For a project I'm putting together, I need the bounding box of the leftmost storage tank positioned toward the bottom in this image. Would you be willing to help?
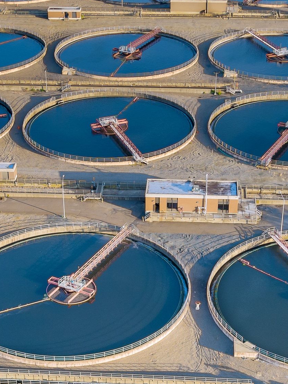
[0,221,190,367]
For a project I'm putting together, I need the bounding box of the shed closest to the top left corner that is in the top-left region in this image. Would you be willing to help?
[48,5,82,18]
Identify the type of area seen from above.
industrial area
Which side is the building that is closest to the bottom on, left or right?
right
